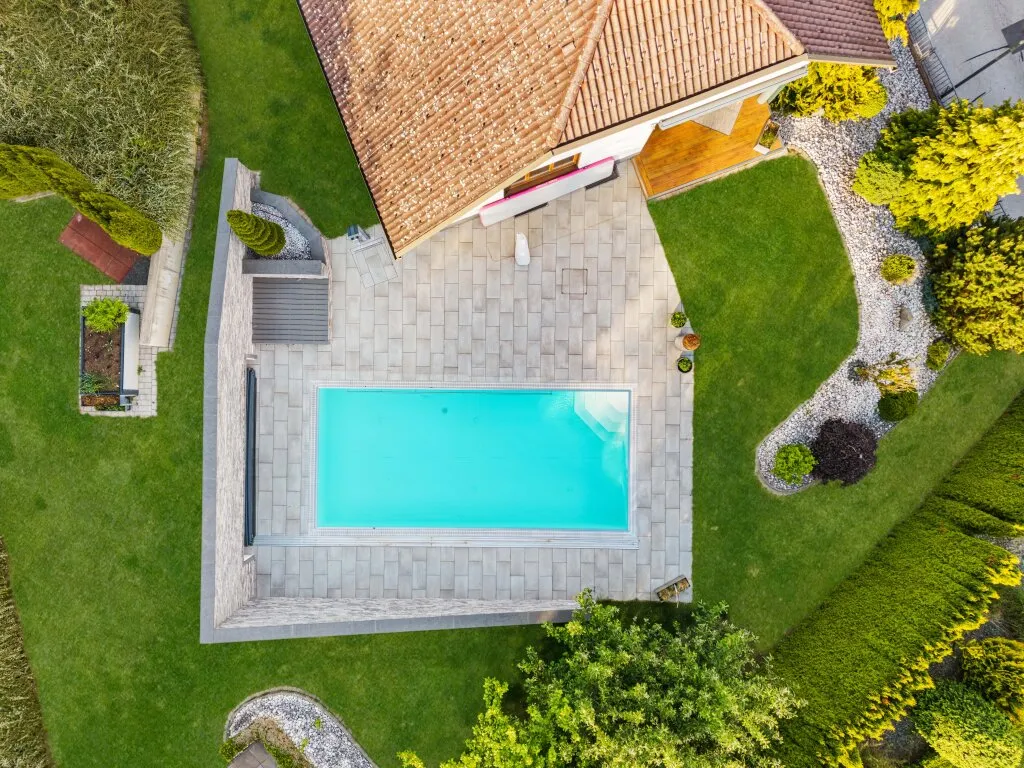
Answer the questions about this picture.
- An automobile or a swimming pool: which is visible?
swimming pool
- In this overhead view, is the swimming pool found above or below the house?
below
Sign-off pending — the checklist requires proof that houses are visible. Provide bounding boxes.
[296,0,897,260]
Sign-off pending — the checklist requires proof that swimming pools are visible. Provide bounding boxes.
[307,380,638,536]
